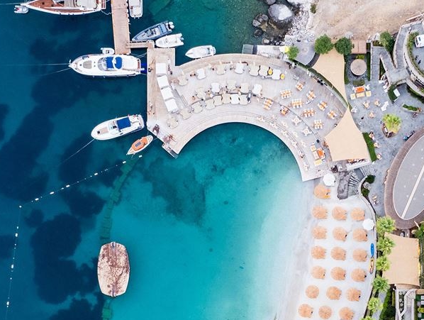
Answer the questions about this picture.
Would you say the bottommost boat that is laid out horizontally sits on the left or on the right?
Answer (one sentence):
The bottommost boat that is laid out horizontally is on the left side of the image.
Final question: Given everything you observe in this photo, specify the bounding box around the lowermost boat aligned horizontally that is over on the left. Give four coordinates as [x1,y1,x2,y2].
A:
[85,114,147,143]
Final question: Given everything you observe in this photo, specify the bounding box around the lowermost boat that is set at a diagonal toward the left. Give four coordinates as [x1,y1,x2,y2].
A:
[128,137,153,154]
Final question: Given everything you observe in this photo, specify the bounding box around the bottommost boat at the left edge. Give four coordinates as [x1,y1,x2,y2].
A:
[0,53,147,78]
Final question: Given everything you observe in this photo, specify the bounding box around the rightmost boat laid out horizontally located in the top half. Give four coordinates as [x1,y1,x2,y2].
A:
[186,44,216,58]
